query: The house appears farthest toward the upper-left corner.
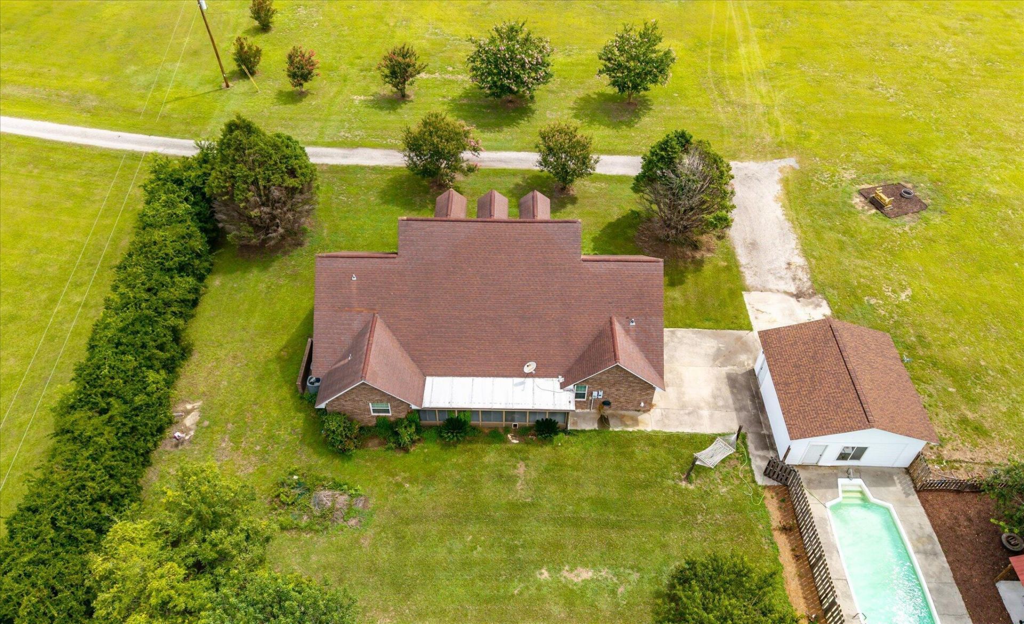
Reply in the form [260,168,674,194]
[313,188,666,429]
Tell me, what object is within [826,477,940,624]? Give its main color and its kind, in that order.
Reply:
white swimming pool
